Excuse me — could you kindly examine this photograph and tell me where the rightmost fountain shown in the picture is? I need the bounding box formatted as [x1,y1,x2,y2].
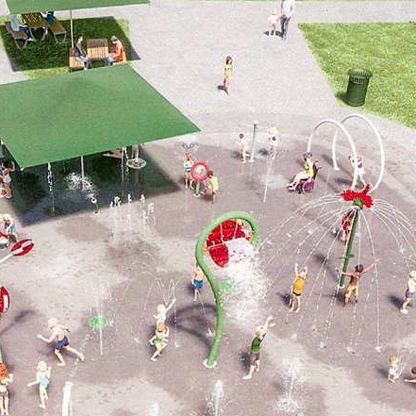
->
[334,174,381,290]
